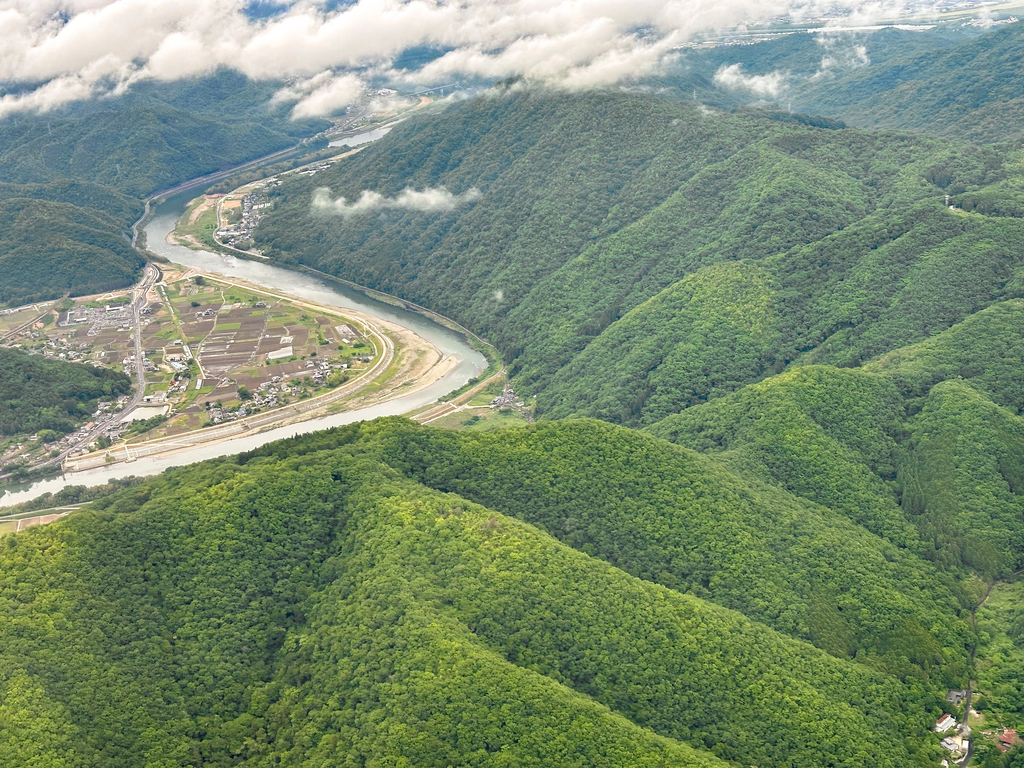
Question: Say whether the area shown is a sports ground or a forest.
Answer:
forest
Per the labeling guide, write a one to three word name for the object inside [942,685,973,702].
house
